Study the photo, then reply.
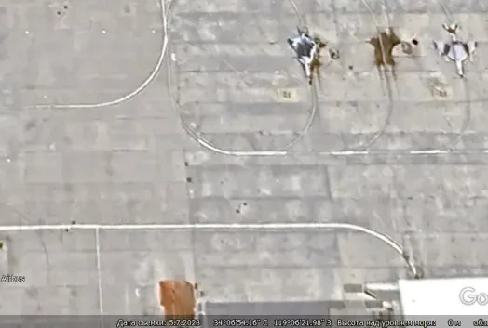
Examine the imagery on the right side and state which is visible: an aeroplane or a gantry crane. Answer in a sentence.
Looking on the right side, you will find an aeroplane.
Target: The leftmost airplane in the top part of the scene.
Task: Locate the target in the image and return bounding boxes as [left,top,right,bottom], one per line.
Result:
[283,26,328,80]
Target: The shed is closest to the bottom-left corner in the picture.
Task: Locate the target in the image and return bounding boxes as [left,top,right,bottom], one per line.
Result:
[157,283,197,328]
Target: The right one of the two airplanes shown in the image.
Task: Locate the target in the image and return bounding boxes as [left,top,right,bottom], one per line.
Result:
[432,21,479,77]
